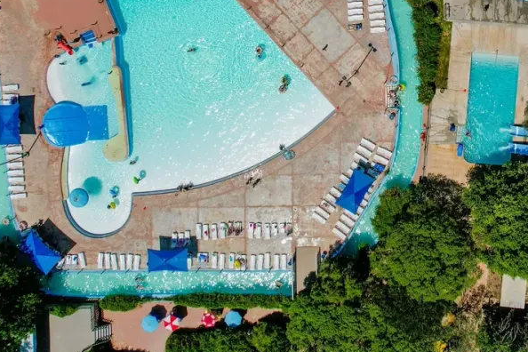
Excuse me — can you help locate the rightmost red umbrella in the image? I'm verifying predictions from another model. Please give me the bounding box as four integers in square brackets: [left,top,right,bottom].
[201,311,217,326]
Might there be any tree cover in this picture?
Yes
